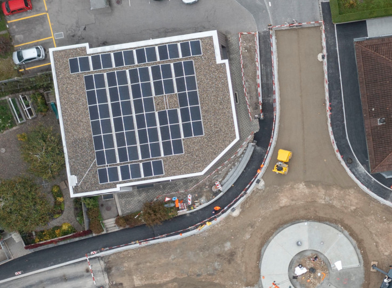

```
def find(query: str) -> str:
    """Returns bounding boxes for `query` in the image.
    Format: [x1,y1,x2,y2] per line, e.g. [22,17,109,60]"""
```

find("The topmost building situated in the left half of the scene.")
[50,31,243,200]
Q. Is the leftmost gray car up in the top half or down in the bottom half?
top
